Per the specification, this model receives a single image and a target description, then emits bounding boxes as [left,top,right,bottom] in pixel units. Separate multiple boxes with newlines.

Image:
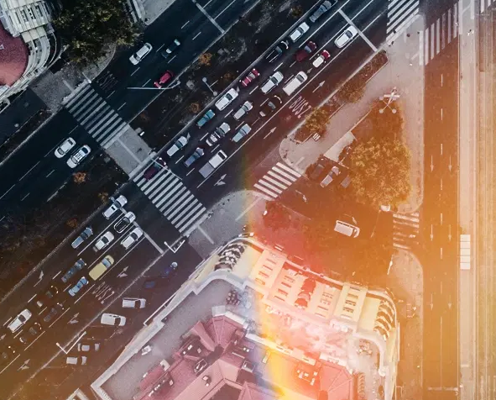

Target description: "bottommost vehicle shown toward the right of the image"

[334,219,362,237]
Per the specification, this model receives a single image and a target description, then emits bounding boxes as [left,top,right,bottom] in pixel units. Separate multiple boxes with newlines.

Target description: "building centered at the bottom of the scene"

[66,236,399,400]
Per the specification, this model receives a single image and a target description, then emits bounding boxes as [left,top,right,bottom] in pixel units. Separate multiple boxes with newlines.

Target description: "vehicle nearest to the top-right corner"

[335,26,357,48]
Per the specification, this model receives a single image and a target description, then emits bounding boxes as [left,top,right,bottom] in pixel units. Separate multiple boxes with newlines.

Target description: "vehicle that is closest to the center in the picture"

[199,151,227,178]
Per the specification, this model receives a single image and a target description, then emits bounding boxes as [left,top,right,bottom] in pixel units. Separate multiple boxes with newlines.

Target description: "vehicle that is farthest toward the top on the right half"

[313,0,335,22]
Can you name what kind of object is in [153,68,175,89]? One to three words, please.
car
